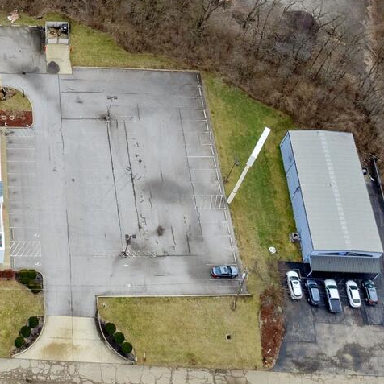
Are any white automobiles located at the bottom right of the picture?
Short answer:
Yes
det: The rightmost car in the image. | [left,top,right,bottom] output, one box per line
[360,278,380,305]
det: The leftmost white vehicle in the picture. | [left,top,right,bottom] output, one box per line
[285,269,304,299]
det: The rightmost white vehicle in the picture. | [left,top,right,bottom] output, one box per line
[343,279,364,307]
